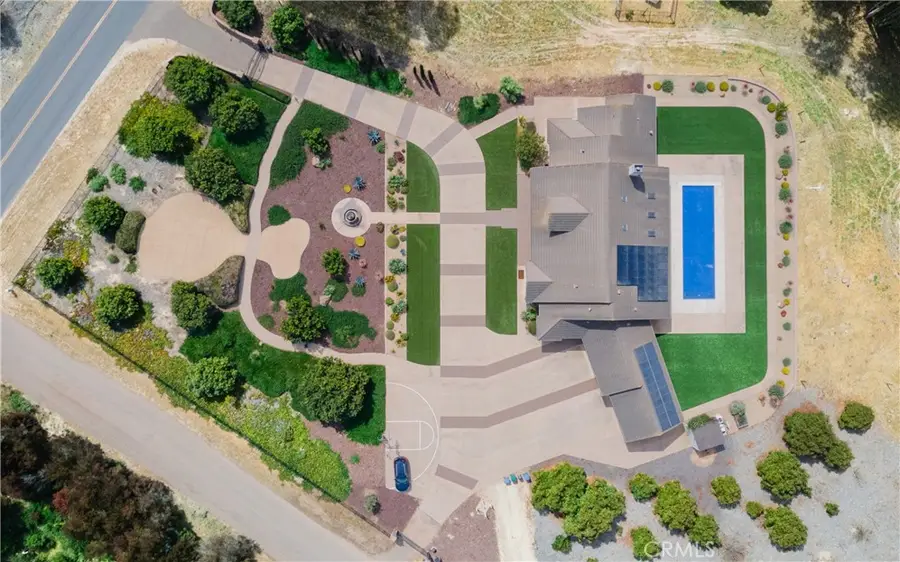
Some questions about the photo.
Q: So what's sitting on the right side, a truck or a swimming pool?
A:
swimming pool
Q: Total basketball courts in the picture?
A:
1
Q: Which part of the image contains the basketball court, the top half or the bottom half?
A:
bottom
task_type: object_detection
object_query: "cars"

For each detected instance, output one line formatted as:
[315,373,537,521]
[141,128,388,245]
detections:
[394,456,410,492]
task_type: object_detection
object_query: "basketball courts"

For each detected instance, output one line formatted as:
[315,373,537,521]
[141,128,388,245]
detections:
[387,380,439,493]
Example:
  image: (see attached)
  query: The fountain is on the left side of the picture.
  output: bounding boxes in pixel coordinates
[341,208,360,226]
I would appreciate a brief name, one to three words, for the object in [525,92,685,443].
house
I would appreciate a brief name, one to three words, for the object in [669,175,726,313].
swimming pool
